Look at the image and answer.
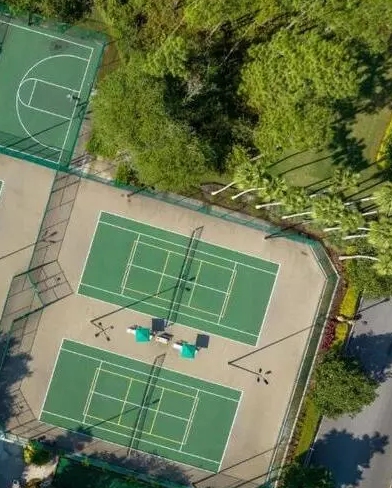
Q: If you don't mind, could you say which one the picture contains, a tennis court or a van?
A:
tennis court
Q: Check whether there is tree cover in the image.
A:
Yes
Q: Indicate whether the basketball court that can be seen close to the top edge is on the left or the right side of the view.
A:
left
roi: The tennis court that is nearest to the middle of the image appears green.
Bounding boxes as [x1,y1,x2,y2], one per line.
[78,212,280,347]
